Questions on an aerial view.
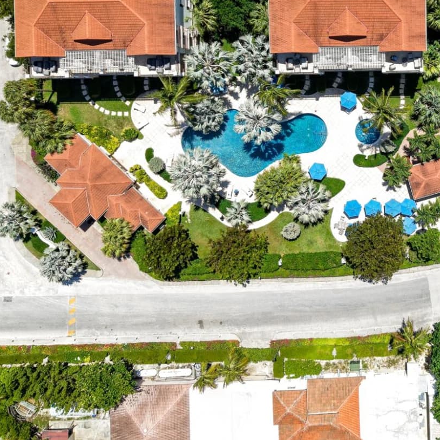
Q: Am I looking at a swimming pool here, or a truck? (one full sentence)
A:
It is a swimming pool that can be seen here.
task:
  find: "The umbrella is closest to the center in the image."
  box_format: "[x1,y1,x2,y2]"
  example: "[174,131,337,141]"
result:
[309,162,328,181]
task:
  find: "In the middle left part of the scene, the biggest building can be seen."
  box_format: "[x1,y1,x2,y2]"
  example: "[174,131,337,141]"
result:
[43,127,166,233]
